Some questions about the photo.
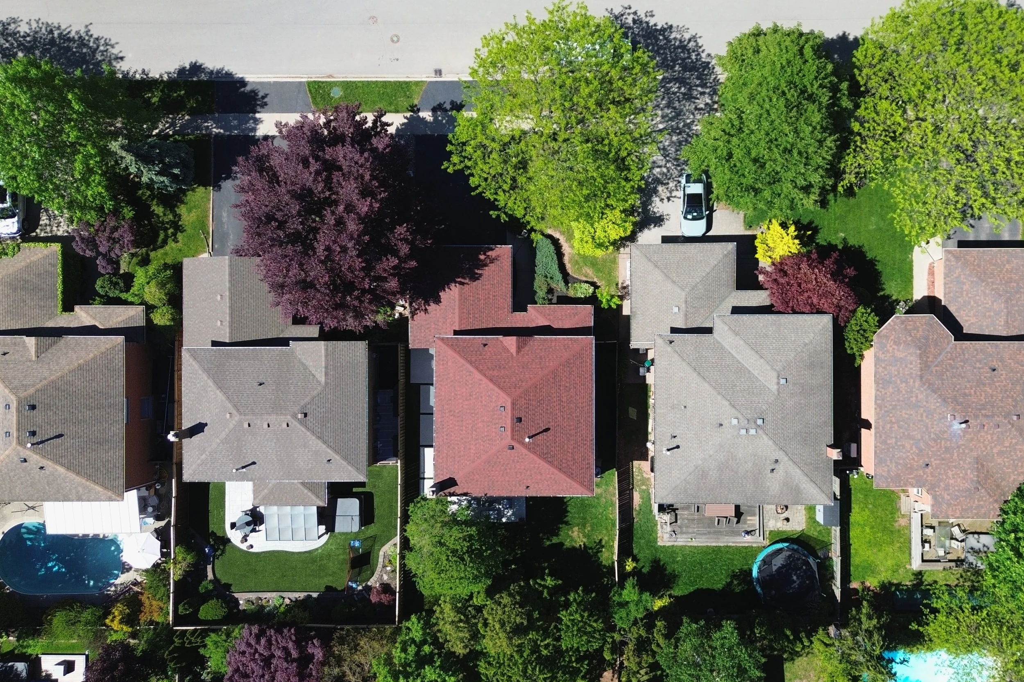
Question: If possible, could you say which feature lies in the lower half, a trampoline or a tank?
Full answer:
The feature located in the lower half is a trampoline.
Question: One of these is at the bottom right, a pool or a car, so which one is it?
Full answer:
Visible at the bottom right is a pool.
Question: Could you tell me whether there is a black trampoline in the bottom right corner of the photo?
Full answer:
Yes, there is a black trampoline in the bottom right corner of the photo.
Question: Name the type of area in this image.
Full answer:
What you see here is a residential area.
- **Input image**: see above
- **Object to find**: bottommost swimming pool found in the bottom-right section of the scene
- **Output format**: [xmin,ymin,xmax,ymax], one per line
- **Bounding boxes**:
[880,647,1006,682]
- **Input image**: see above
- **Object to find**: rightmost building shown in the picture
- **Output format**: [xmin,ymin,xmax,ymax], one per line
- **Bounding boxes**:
[850,247,1024,520]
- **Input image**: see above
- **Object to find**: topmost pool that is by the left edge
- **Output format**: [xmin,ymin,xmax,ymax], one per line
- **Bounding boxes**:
[0,518,125,598]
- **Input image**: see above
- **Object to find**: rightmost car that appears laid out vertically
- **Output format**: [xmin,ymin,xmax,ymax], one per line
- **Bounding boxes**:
[679,170,711,238]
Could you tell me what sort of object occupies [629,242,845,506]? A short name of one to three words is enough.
house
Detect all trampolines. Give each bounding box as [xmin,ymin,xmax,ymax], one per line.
[750,539,828,617]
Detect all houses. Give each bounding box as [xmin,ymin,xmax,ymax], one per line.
[407,244,596,499]
[850,247,1024,520]
[629,242,845,506]
[0,244,158,503]
[166,256,376,508]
